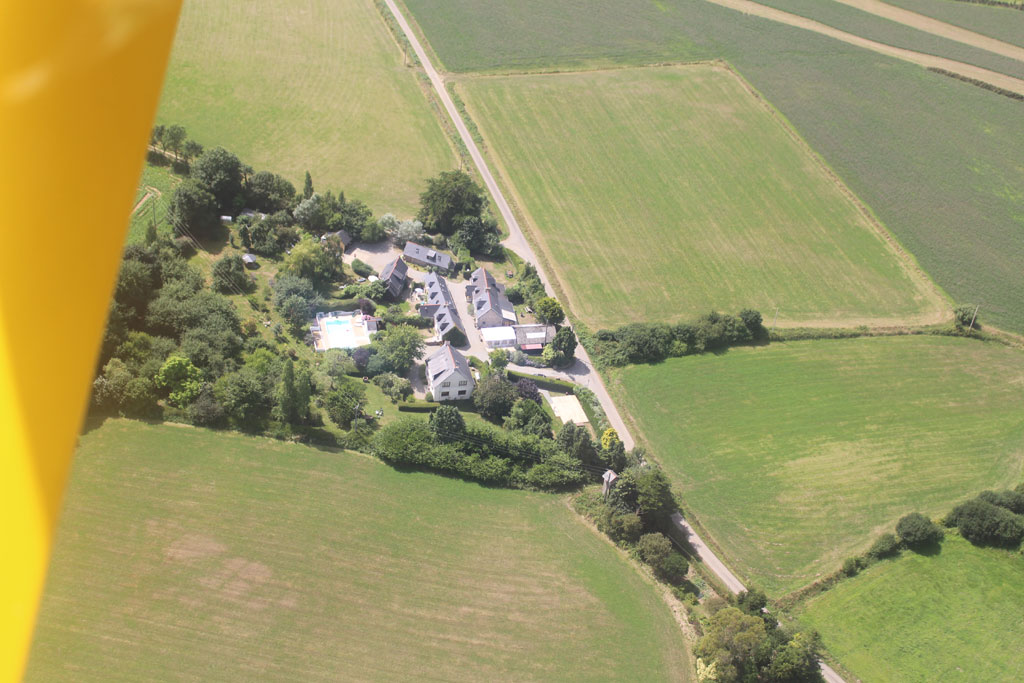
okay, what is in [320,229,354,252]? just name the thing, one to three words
shed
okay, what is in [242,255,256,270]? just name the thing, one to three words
gazebo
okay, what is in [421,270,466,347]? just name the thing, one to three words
house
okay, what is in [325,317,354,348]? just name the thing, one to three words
swimming pool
